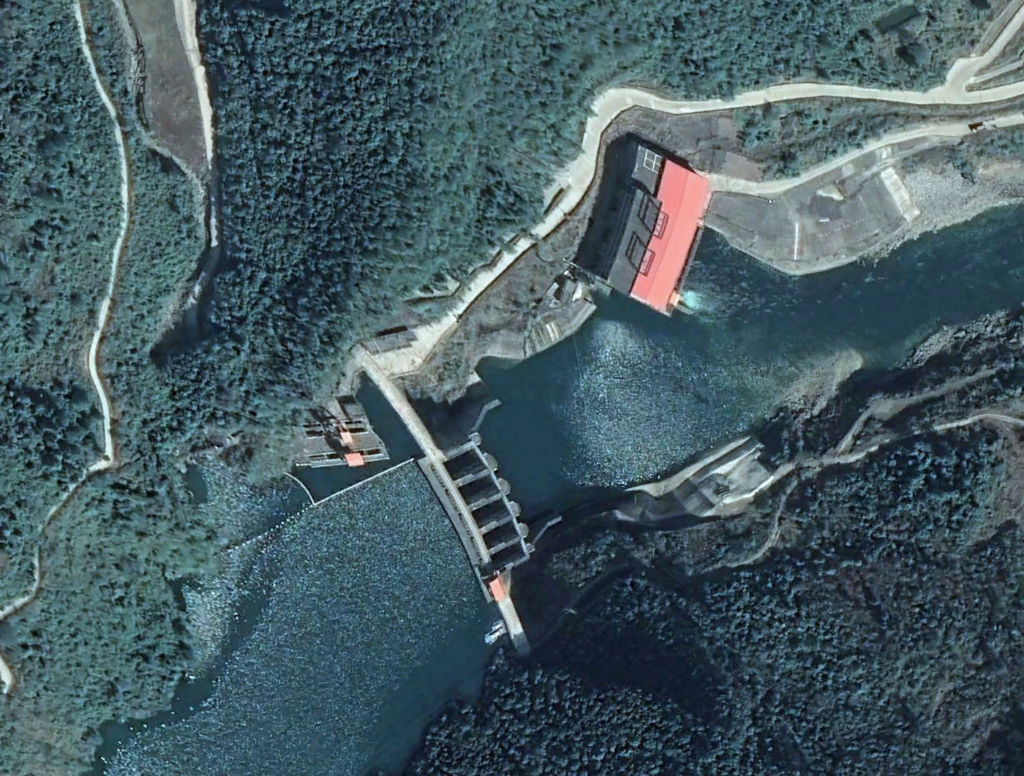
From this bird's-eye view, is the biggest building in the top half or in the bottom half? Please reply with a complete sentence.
The biggest building sits in the top half of the picture.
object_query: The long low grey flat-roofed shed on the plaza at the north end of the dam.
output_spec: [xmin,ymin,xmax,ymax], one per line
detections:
[362,331,418,355]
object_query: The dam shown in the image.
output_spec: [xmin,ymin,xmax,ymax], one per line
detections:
[361,352,564,657]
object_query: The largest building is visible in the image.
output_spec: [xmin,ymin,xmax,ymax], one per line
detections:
[594,145,710,317]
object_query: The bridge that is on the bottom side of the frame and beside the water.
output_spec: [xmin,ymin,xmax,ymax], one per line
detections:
[428,457,490,562]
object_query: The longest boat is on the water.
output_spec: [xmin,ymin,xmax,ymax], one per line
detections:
[484,627,504,641]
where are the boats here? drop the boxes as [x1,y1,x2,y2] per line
[491,618,504,628]
[484,627,504,641]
